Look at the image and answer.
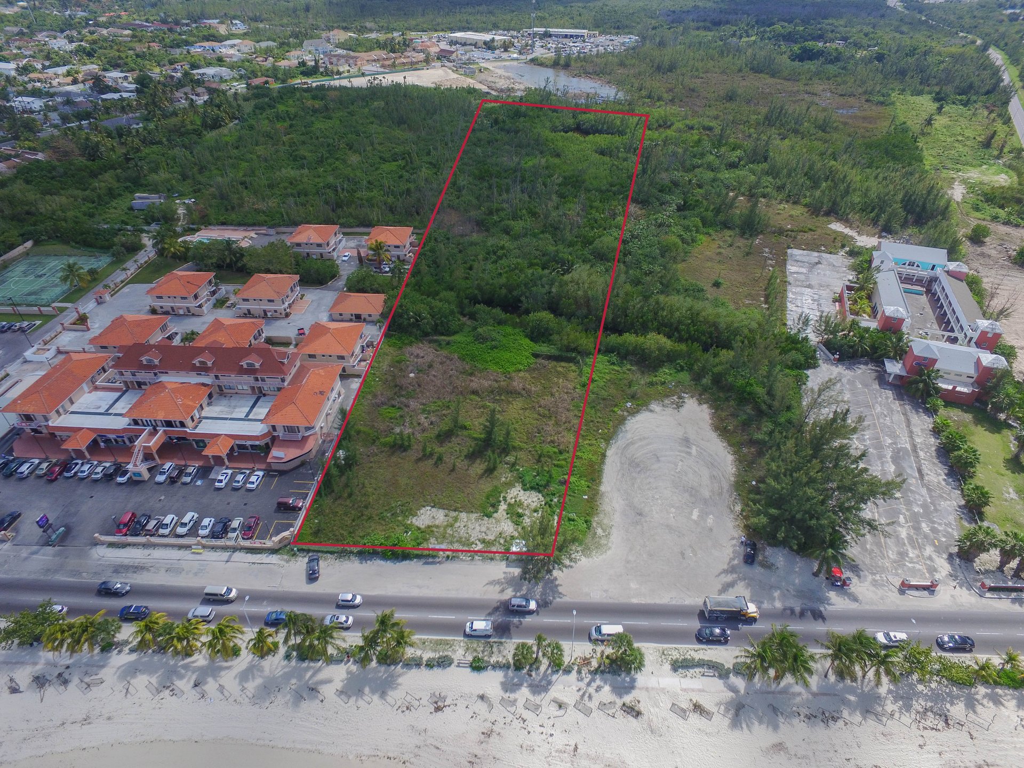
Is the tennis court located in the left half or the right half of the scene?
left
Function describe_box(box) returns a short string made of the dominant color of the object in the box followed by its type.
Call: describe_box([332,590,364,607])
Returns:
white car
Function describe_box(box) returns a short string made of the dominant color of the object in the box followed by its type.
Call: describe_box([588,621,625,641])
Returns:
white car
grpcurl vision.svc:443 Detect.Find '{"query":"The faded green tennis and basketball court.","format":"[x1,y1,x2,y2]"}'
[0,255,113,304]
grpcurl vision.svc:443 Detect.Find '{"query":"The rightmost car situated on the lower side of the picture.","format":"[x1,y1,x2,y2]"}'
[935,631,979,650]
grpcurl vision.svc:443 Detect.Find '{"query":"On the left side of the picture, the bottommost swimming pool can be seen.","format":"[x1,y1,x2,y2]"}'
[179,230,267,246]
